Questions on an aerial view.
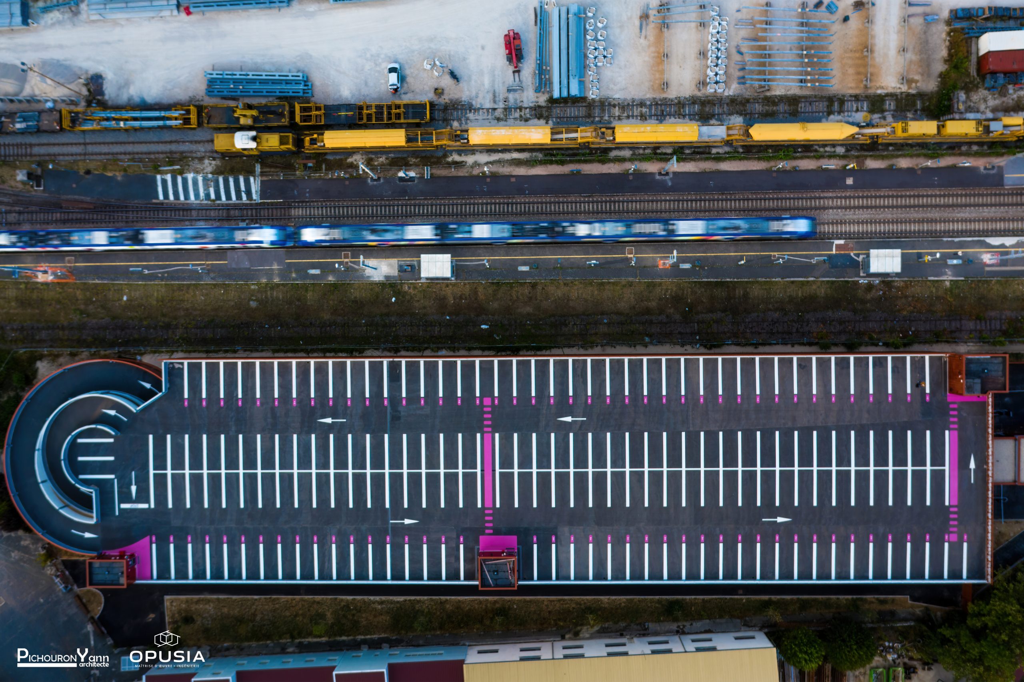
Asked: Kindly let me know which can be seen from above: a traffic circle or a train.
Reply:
train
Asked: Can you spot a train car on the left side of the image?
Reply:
Yes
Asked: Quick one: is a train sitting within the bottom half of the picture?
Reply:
No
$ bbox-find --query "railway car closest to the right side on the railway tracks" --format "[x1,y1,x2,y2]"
[999,119,1024,144]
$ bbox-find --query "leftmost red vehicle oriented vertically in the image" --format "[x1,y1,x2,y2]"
[503,26,524,83]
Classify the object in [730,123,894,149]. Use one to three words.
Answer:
rail car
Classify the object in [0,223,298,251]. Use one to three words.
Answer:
train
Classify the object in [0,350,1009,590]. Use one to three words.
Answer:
building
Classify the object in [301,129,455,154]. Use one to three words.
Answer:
rail car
